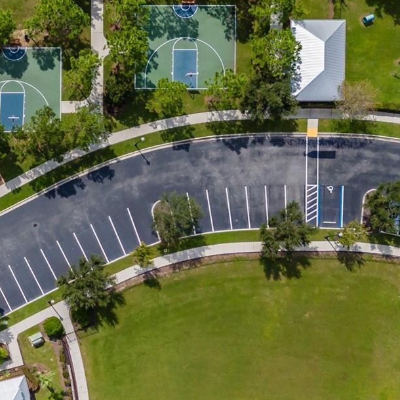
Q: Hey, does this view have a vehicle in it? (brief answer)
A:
No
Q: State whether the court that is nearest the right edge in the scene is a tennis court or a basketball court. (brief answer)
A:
basketball court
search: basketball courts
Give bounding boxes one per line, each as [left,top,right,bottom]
[0,47,61,132]
[134,5,235,89]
